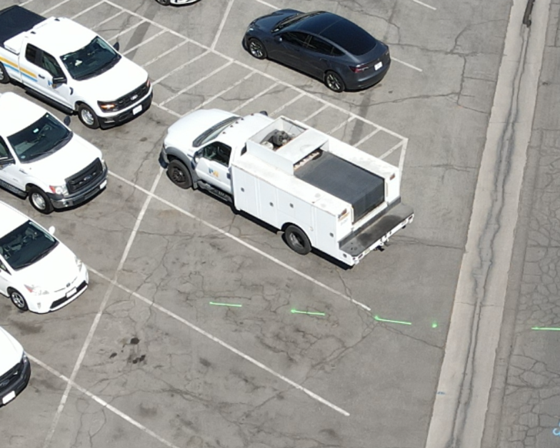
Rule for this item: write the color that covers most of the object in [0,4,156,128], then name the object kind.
white truck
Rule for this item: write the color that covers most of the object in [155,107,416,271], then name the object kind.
white truck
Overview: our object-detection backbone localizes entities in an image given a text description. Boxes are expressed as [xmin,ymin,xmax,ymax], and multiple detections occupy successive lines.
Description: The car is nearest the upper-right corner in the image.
[248,5,395,92]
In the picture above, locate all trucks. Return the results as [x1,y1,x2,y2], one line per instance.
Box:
[155,107,416,271]
[0,4,156,128]
[0,94,112,214]
[0,334,31,404]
